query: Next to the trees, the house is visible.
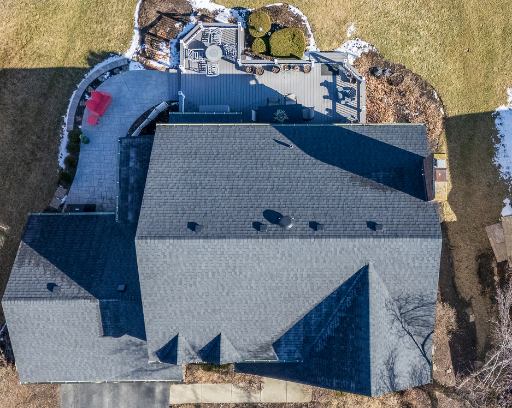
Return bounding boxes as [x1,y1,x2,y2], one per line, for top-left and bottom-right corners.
[3,112,450,397]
